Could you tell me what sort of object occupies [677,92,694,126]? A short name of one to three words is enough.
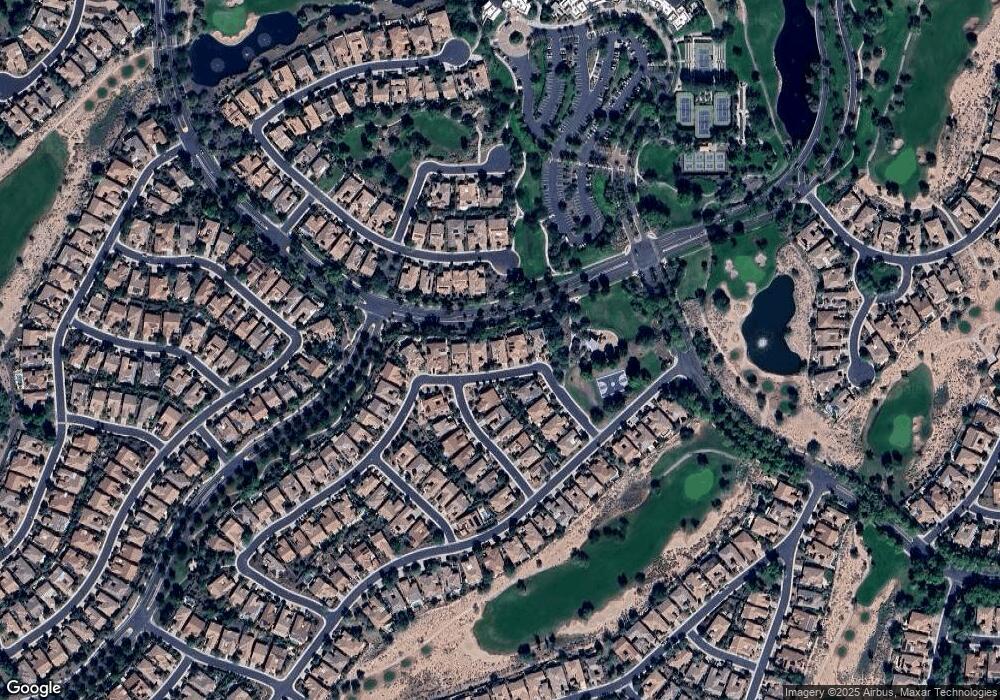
tennis court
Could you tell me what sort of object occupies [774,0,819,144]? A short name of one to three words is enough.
pond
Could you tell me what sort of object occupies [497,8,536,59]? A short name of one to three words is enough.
roundabout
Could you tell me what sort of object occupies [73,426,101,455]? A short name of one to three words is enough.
house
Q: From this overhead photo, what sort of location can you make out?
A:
residential area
